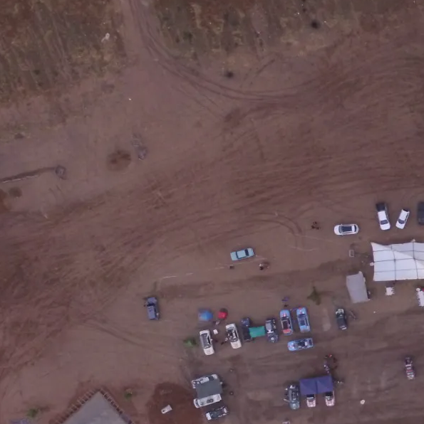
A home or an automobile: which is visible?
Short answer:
automobile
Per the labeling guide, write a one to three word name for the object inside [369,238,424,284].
tent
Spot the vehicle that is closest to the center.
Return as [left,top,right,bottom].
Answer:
[230,247,256,262]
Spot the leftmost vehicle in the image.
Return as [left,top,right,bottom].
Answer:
[145,296,159,321]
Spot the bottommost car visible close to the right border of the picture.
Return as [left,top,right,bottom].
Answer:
[403,356,417,379]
